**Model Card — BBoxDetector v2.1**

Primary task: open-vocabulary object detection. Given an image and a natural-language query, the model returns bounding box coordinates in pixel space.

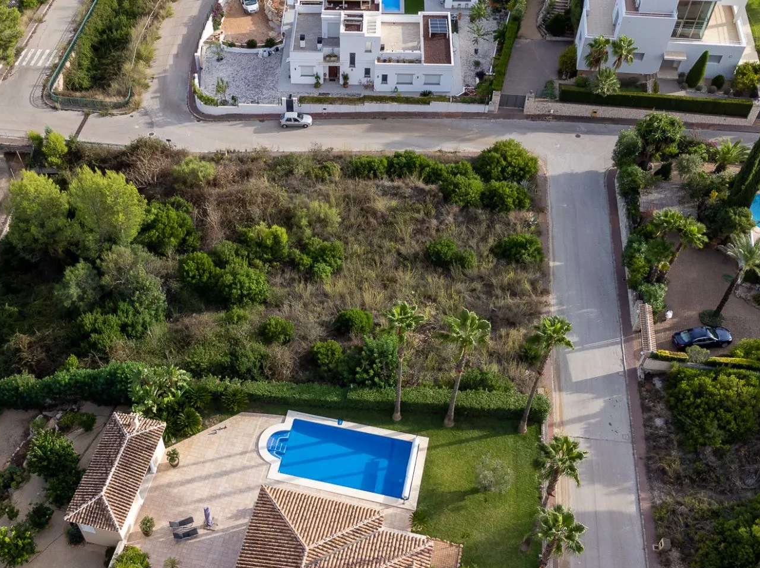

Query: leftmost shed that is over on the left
[63,411,166,539]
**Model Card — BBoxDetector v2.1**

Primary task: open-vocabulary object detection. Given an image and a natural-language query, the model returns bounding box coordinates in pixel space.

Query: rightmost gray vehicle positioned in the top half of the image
[278,111,312,128]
